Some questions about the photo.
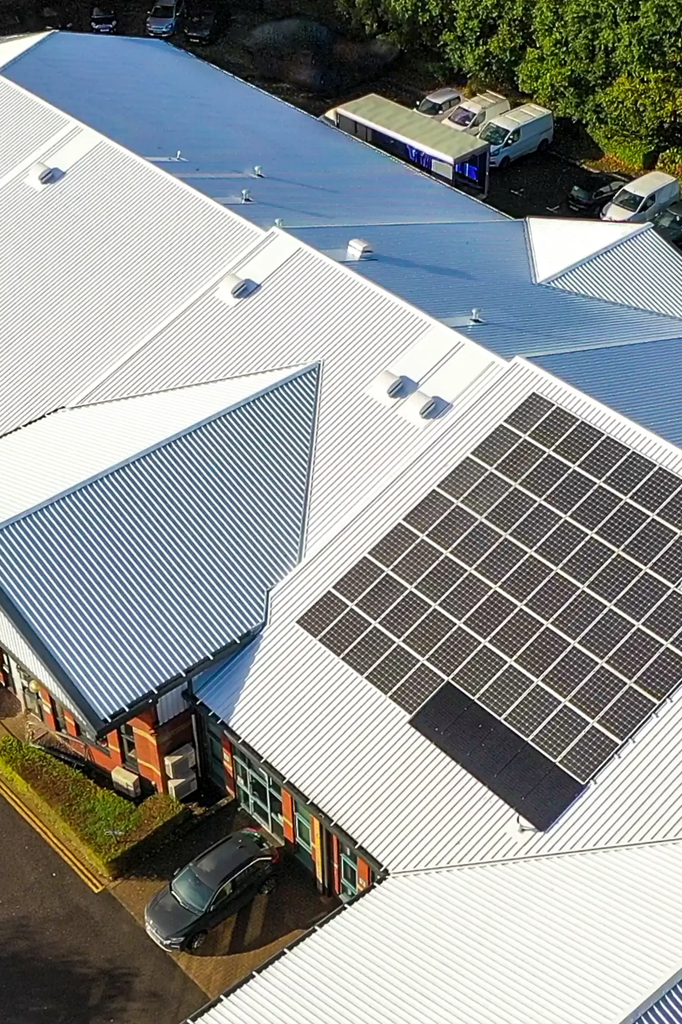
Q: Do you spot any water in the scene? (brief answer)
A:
No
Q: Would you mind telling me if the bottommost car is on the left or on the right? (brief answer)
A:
left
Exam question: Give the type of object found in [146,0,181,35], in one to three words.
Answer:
car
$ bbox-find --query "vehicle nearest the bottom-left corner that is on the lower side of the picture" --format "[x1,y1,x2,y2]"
[144,826,283,950]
